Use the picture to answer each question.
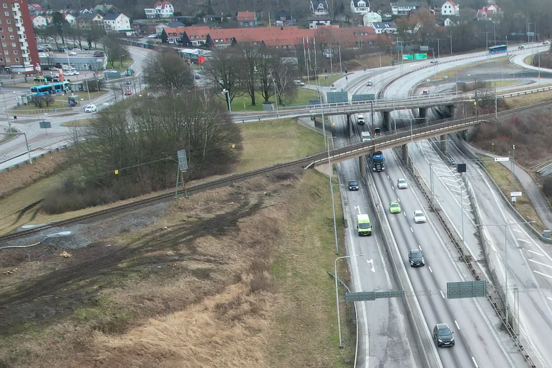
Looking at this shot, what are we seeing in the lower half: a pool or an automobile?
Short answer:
automobile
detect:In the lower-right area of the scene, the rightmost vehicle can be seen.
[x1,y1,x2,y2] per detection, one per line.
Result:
[430,319,454,345]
